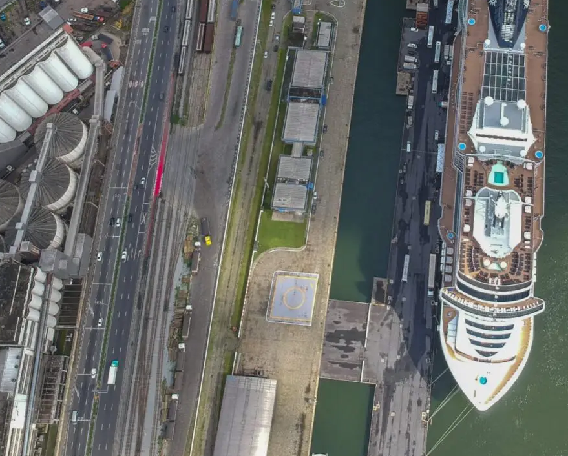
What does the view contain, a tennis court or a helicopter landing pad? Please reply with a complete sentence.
The image shows a helicopter landing pad.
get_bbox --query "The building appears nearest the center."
[271,180,309,211]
